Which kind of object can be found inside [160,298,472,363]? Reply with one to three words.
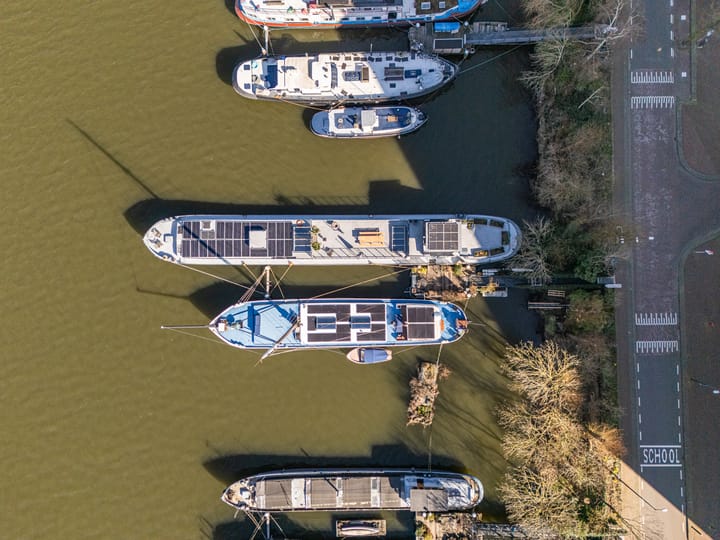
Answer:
ship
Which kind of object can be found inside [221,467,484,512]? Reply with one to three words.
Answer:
boat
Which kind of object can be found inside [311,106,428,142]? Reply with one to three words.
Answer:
boat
